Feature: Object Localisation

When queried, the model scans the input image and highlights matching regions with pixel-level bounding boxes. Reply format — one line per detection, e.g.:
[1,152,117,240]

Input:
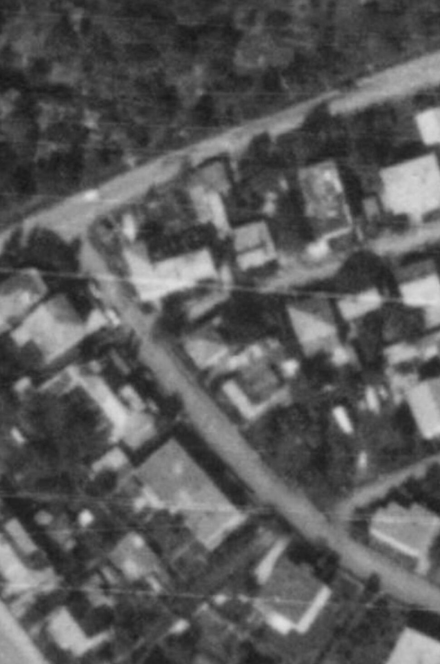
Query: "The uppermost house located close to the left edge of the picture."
[0,269,45,327]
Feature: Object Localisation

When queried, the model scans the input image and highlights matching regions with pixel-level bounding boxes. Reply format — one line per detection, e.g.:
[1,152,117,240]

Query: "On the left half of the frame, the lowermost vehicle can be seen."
[9,427,26,444]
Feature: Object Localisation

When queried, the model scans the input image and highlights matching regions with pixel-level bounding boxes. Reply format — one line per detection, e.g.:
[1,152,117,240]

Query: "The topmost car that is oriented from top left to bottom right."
[107,309,121,327]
